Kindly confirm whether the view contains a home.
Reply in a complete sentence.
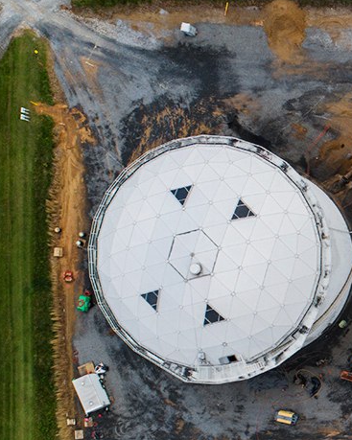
No, there isn't any home down there.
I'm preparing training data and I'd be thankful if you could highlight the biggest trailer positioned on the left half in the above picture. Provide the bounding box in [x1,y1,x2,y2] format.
[72,373,111,415]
